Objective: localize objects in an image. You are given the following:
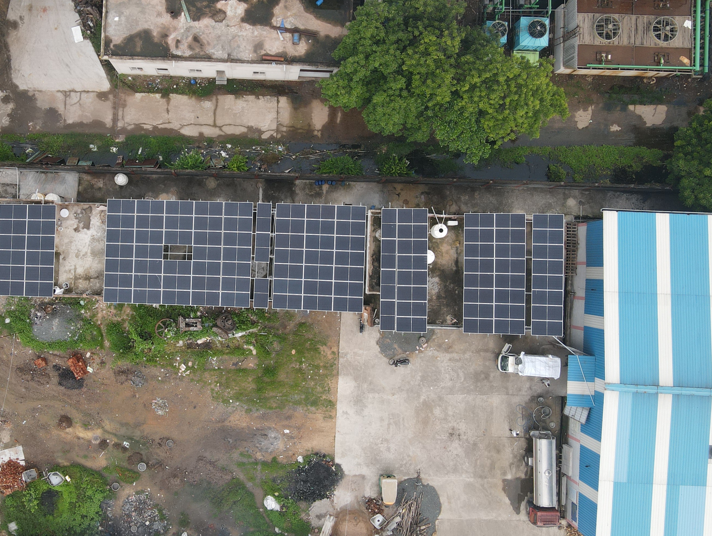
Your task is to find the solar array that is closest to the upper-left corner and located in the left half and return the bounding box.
[0,201,63,301]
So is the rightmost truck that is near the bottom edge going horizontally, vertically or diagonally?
vertically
